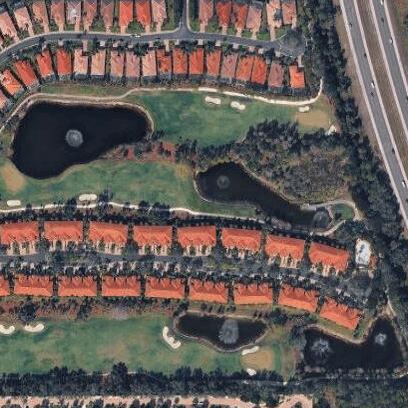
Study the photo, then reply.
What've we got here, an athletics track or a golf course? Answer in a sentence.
Looking from above, you can make out a golf course.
